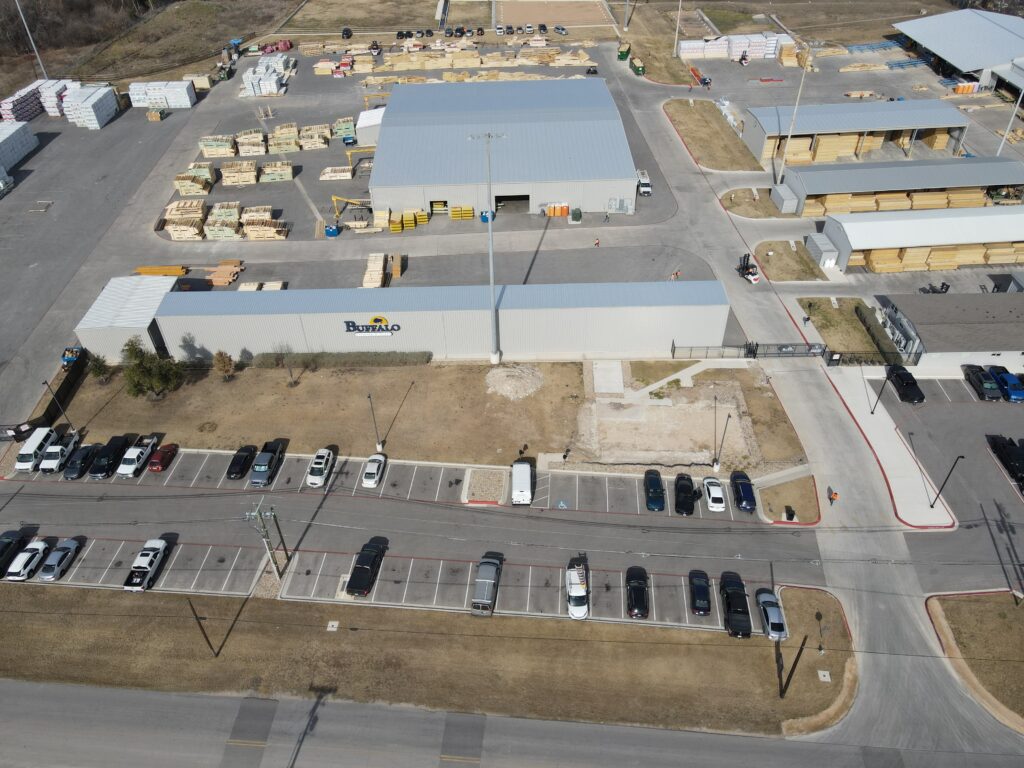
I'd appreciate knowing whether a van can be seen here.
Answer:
Yes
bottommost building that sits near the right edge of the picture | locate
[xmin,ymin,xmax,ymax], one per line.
[883,293,1024,370]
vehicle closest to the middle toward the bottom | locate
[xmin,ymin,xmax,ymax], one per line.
[511,460,535,505]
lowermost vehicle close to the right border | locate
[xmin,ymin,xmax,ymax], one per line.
[993,442,1024,488]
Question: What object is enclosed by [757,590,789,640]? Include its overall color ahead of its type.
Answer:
gray car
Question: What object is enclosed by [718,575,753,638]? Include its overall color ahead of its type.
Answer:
black truck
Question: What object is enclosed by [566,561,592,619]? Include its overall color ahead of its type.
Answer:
white vehicle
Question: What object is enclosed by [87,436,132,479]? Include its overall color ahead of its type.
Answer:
black truck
